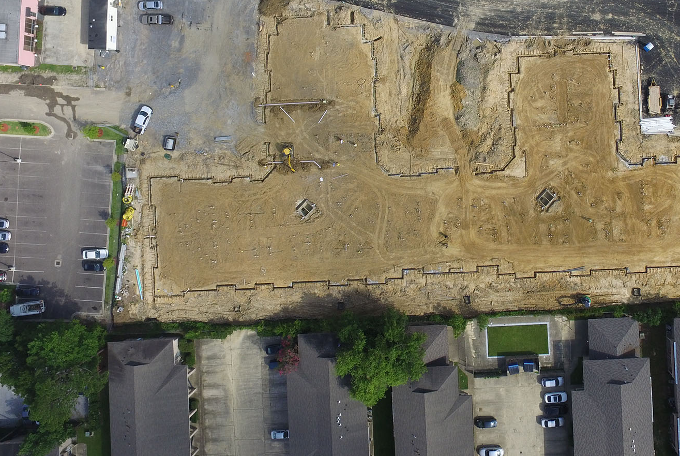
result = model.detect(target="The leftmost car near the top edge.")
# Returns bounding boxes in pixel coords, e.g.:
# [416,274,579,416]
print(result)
[39,5,67,17]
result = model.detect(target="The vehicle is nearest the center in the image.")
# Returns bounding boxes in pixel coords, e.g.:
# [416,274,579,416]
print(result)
[279,148,295,173]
